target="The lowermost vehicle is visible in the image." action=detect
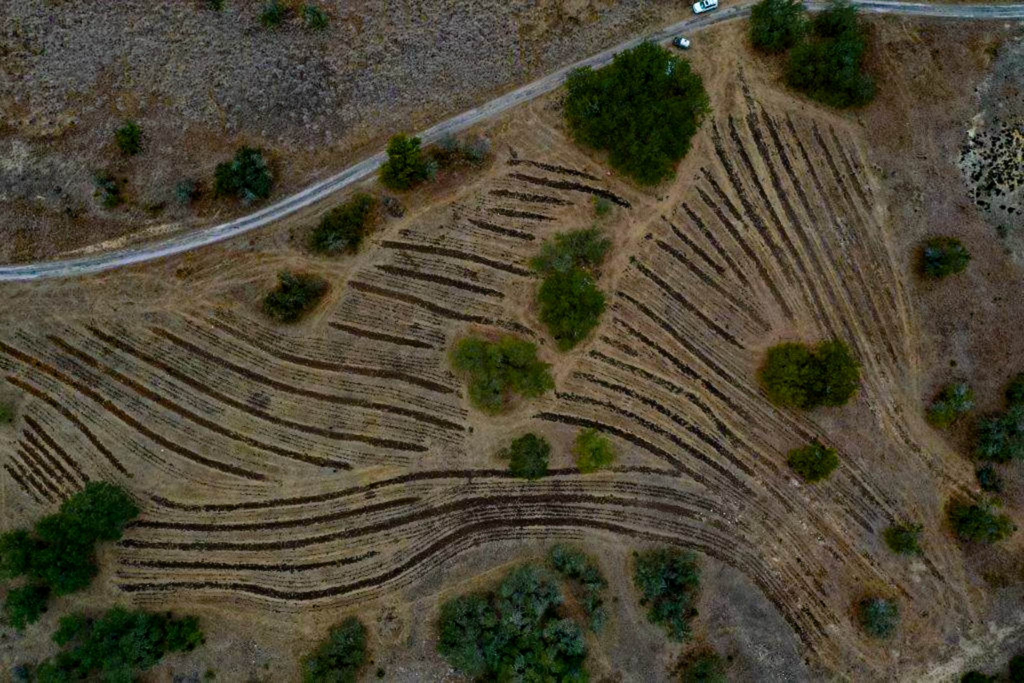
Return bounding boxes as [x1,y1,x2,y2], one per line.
[670,38,691,53]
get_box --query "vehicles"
[692,0,721,15]
[670,38,691,53]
